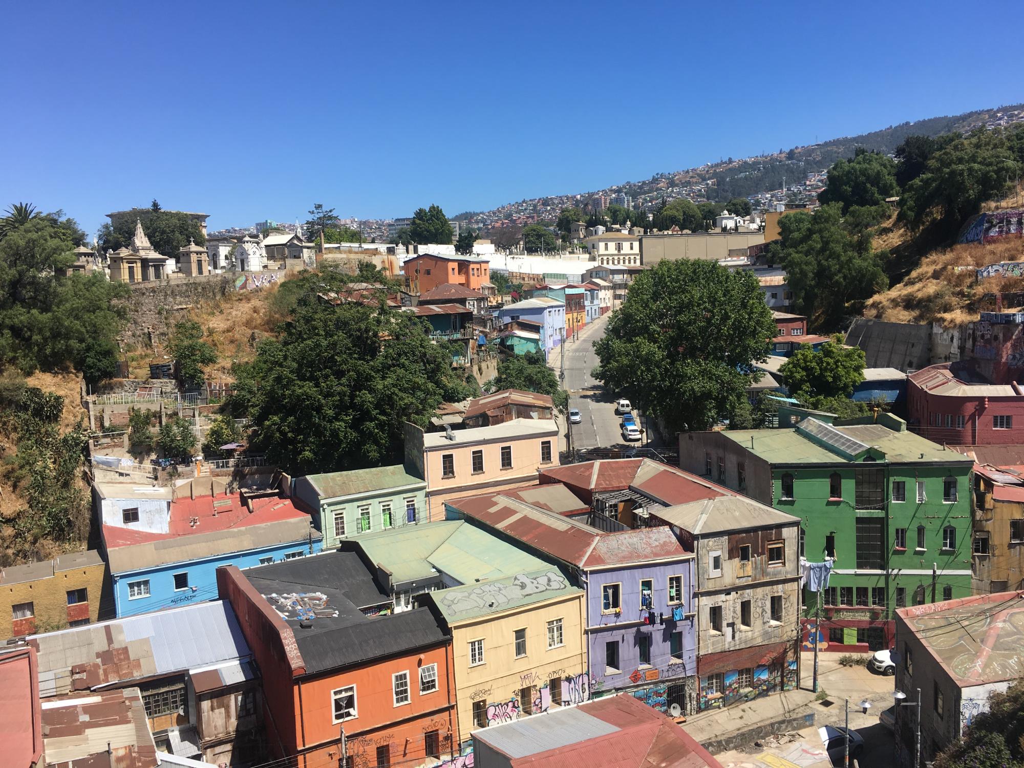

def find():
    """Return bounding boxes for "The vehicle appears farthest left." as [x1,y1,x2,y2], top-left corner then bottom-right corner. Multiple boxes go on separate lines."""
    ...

[569,407,582,424]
